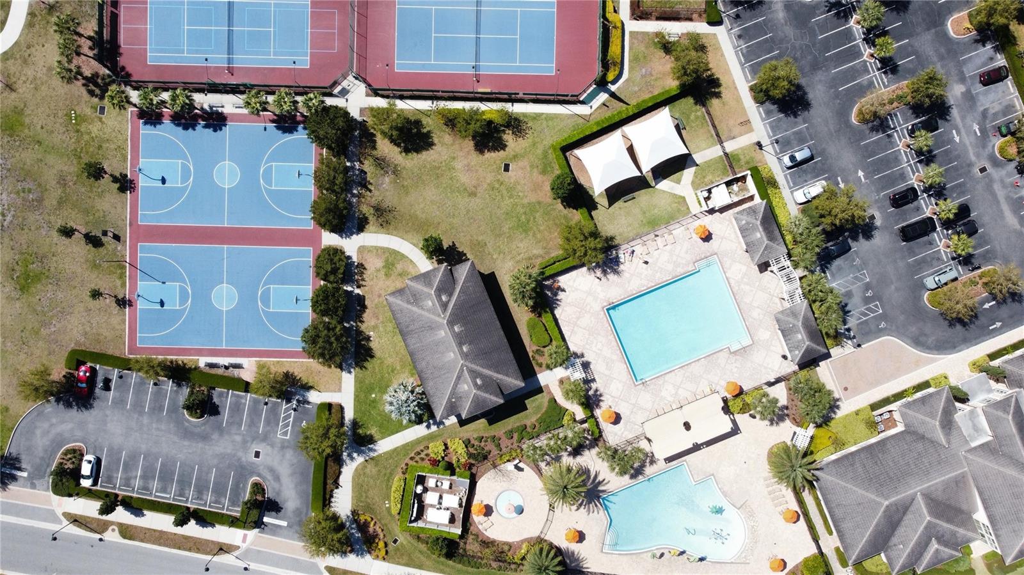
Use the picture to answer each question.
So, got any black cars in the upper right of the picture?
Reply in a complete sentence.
Yes, a black car can be seen in the upper right of the picture.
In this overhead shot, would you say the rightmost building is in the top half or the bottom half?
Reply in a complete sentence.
The rightmost building sits in the bottom half of the picture.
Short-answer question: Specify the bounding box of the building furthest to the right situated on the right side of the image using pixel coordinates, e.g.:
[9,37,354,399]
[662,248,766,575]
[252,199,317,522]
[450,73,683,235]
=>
[808,348,1024,575]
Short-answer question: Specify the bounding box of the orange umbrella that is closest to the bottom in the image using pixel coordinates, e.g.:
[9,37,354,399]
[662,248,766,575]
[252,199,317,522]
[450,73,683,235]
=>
[769,555,785,572]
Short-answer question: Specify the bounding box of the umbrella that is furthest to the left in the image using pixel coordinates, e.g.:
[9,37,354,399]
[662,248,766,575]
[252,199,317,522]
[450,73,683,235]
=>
[470,501,485,517]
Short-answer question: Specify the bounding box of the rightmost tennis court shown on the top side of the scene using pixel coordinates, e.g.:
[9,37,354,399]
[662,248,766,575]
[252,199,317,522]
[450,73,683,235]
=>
[358,0,600,98]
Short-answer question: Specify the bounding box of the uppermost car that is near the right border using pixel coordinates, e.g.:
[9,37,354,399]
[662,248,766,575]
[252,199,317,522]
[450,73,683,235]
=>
[975,65,1010,87]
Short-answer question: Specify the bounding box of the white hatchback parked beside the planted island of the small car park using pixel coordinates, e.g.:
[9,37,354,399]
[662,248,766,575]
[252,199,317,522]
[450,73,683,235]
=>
[82,454,100,486]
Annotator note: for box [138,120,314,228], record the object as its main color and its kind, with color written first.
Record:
blue basketball court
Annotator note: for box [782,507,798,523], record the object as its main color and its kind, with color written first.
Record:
orange umbrella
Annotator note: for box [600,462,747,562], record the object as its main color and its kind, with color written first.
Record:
white swimming pool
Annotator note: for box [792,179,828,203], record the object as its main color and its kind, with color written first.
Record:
white car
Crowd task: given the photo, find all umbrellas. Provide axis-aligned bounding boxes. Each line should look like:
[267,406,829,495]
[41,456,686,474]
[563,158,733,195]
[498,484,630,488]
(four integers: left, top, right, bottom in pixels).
[600,409,615,424]
[782,507,798,523]
[564,526,580,543]
[723,379,739,395]
[693,222,709,238]
[769,555,785,572]
[470,501,485,517]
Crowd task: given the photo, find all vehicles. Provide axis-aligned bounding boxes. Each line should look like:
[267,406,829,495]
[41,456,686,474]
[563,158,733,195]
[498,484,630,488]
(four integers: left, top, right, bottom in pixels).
[74,363,94,396]
[816,235,852,259]
[896,216,935,241]
[975,65,1010,87]
[969,265,983,272]
[885,187,918,208]
[903,115,939,138]
[792,179,828,203]
[779,146,814,169]
[82,454,100,486]
[934,203,974,227]
[943,218,978,240]
[921,264,960,288]
[100,375,111,391]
